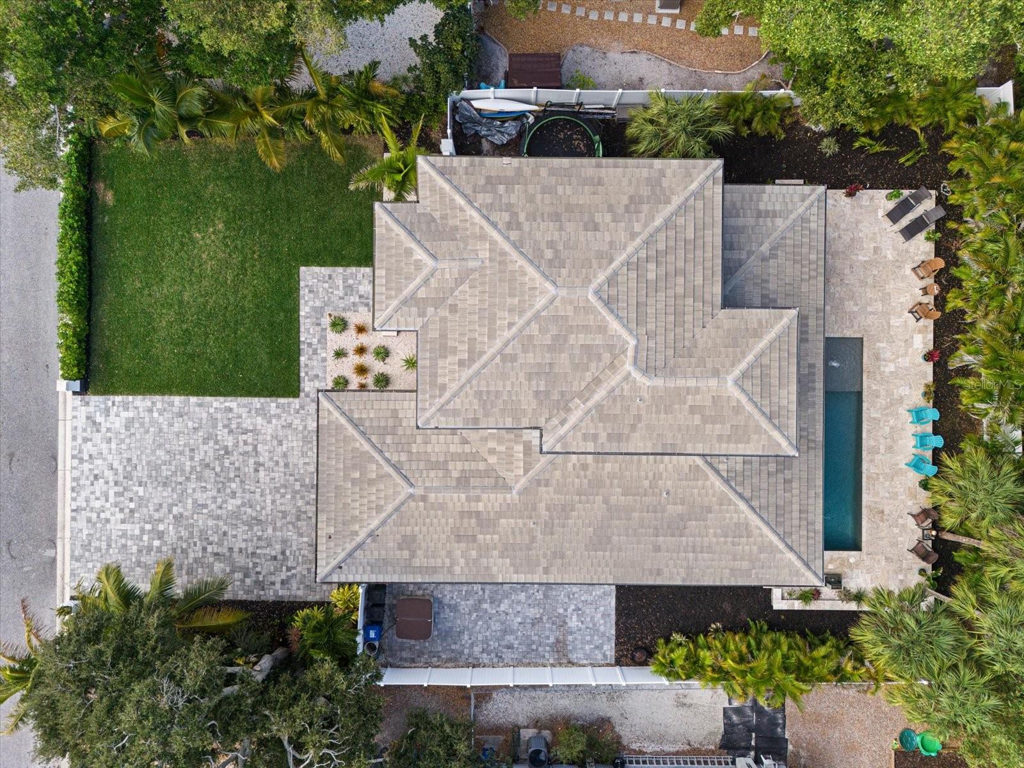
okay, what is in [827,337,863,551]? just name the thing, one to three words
swimming pool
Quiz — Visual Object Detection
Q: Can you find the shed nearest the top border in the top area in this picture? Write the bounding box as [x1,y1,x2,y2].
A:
[509,54,561,88]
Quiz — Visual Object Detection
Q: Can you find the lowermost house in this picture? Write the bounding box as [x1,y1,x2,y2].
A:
[315,154,828,586]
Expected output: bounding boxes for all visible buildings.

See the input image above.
[315,154,828,586]
[509,54,561,88]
